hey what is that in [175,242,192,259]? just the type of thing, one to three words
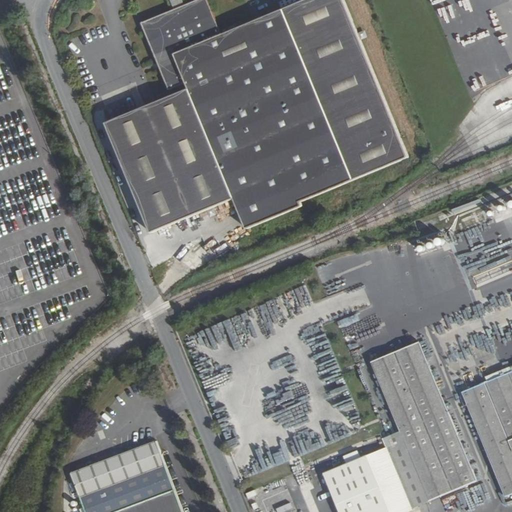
vehicle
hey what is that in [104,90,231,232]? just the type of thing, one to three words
warehouse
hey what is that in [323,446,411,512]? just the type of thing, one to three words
building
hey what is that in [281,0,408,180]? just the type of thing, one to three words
warehouse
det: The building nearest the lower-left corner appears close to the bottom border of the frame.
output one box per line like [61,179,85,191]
[70,440,183,512]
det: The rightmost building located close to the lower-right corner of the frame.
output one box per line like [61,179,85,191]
[460,370,512,496]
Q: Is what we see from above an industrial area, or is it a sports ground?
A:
industrial area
